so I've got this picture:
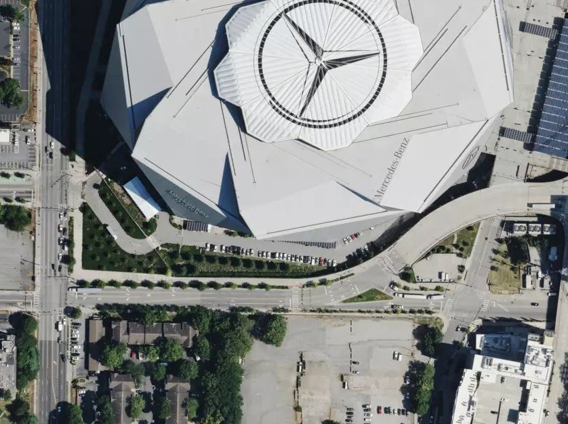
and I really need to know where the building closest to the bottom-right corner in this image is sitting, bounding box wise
[517,382,548,424]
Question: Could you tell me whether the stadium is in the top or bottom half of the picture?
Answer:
top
